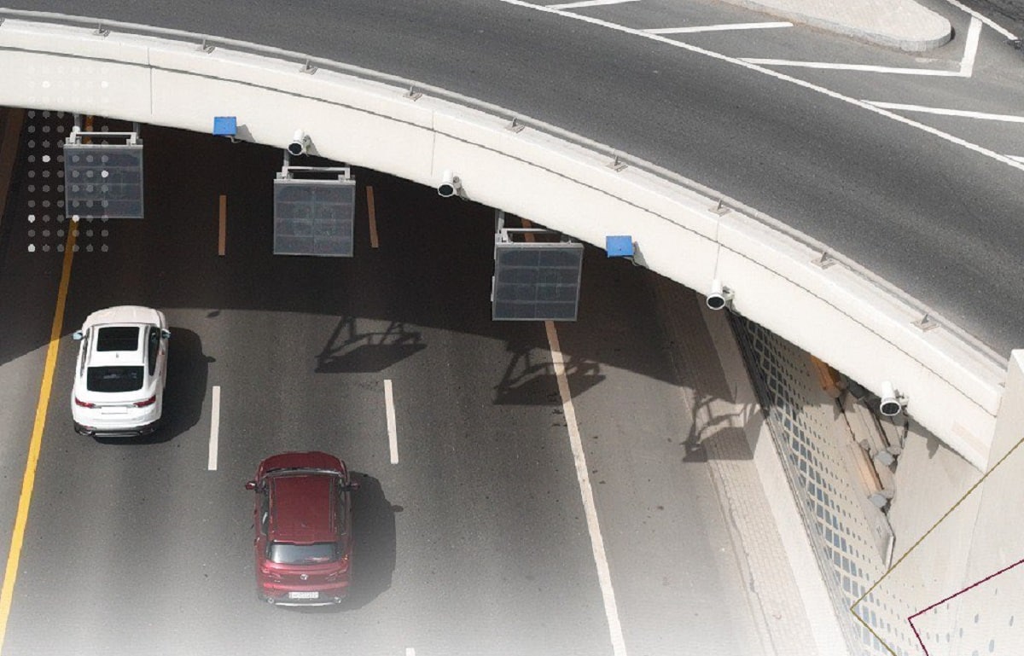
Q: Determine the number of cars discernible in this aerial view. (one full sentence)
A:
There are 2 cars in the image.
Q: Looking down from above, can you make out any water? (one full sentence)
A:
No, no water is visible.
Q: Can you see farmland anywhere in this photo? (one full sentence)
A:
No, the picture contains no farmland.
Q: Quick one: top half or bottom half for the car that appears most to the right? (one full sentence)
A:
The car that appears most to the right is in the bottom half of the image.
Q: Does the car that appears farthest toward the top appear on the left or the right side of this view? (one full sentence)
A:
The car that appears farthest toward the top sits on the left side.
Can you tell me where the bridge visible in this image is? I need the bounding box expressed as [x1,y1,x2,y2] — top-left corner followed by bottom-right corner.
[0,19,1015,472]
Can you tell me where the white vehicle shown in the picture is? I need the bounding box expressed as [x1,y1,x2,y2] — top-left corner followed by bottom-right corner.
[71,304,171,441]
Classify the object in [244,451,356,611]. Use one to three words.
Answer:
car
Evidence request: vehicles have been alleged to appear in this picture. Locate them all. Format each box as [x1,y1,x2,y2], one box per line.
[71,304,171,441]
[244,451,356,611]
